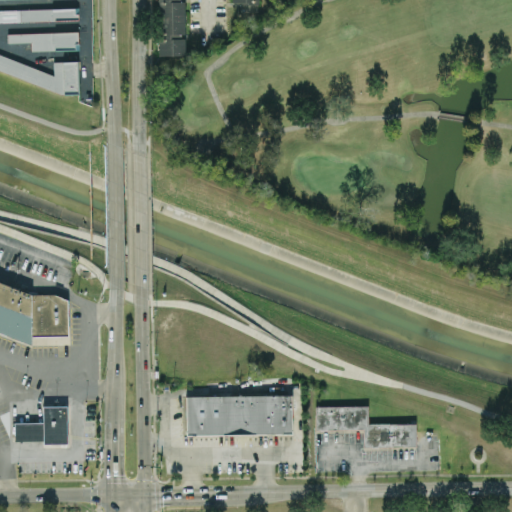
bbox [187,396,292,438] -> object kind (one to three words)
building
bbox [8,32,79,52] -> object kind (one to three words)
building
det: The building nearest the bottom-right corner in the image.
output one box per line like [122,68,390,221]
[316,406,417,450]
